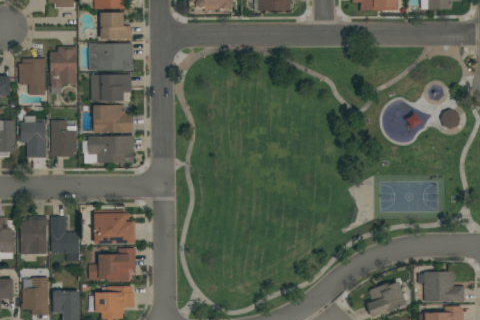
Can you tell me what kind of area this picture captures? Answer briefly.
residential area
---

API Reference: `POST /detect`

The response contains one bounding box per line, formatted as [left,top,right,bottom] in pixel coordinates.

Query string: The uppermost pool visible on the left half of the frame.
[80,14,96,37]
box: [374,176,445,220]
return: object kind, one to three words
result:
basketball court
